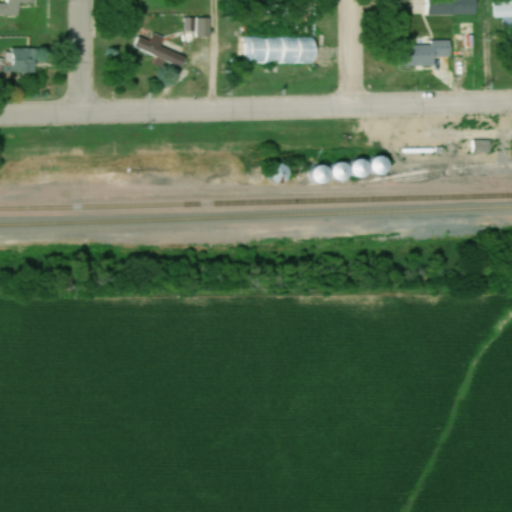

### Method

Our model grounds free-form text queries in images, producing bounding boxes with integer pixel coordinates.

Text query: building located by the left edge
[2,48,52,74]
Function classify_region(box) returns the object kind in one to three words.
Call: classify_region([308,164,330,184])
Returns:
silo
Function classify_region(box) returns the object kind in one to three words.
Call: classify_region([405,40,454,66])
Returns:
house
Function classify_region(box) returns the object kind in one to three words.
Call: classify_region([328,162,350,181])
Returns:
silo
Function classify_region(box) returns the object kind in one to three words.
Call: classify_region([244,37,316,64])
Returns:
shed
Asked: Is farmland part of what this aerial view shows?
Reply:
Yes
